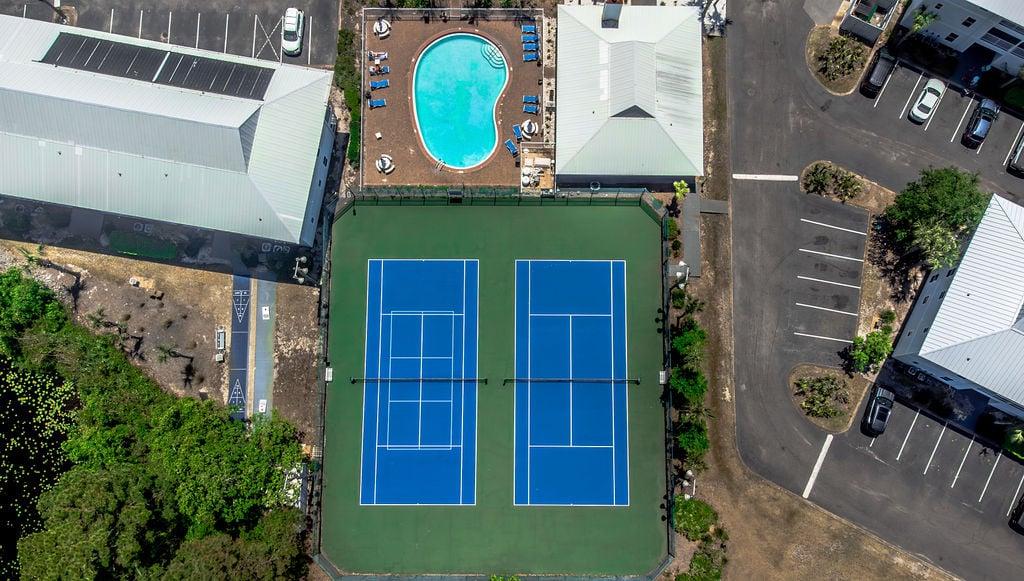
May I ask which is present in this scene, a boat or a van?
van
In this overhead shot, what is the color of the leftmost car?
white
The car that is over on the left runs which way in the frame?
from top to bottom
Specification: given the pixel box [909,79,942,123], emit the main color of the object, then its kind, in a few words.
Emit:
white car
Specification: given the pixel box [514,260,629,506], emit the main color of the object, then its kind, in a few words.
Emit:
blue tennis court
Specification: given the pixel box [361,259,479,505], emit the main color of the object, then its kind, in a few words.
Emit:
blue tennis court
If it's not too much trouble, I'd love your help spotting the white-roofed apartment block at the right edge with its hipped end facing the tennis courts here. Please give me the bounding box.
[892,192,1024,418]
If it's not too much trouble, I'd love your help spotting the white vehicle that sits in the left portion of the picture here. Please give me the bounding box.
[280,10,304,56]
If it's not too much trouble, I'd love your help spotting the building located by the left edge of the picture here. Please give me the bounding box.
[0,16,350,248]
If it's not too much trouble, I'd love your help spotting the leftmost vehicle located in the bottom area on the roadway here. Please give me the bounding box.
[863,387,898,438]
